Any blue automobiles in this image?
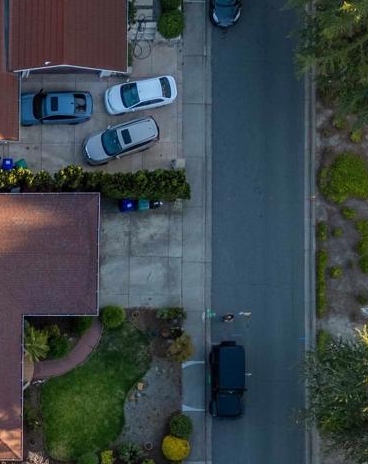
Yes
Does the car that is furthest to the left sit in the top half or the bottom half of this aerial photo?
top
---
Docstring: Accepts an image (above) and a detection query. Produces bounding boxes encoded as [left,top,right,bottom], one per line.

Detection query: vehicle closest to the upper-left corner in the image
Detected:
[20,89,92,125]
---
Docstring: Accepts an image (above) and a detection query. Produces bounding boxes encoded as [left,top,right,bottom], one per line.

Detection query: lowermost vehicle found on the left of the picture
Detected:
[84,116,163,165]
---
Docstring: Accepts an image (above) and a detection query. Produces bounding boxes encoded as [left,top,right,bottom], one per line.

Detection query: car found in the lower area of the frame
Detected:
[209,342,248,417]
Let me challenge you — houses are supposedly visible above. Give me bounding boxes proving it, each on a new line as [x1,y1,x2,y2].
[0,192,101,461]
[0,0,129,141]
